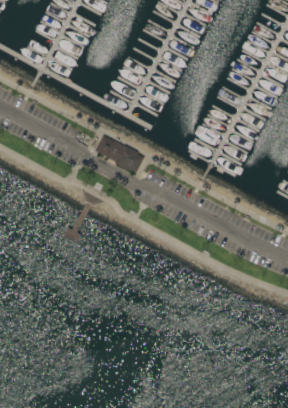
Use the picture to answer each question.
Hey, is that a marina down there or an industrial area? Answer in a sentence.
What you see here is a marina.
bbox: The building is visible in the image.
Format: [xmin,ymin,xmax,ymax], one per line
[96,134,144,175]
